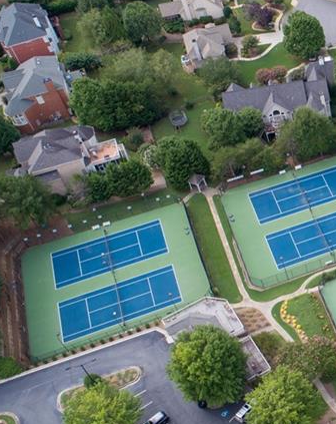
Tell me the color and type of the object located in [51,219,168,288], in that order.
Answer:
blue tennis court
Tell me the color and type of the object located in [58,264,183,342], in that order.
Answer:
blue tennis court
